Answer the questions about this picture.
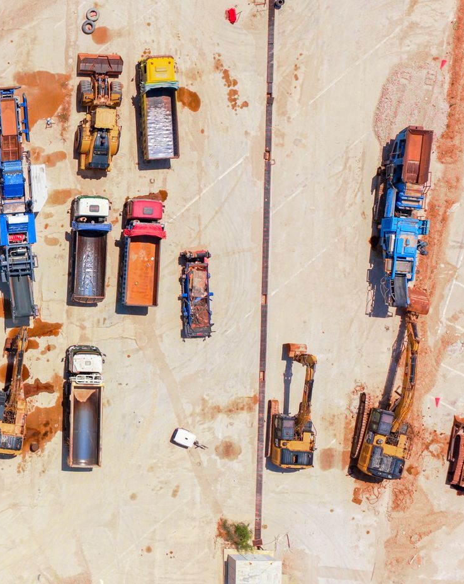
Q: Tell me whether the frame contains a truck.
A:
Yes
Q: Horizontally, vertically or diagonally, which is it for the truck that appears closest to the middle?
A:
vertically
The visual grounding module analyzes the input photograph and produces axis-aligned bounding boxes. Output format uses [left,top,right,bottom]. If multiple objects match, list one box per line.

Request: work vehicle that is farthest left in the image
[0,322,33,454]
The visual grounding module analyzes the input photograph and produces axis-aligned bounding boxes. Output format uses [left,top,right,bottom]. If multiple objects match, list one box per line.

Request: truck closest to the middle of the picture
[179,249,215,342]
